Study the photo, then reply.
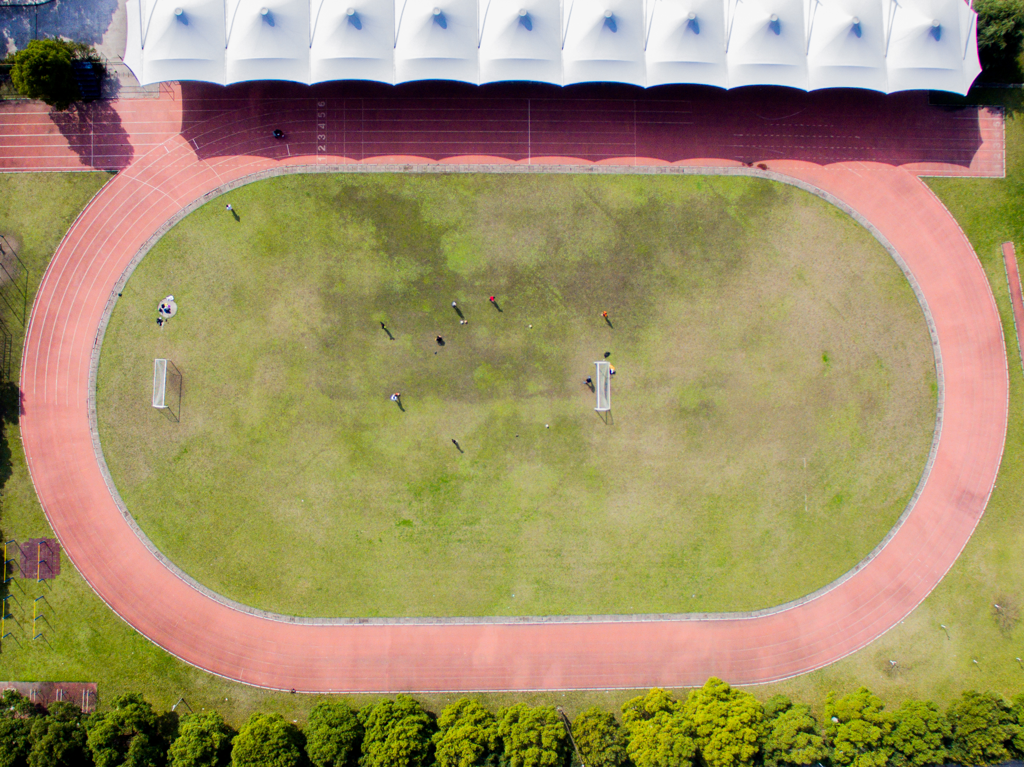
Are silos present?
No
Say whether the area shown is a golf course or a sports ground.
sports ground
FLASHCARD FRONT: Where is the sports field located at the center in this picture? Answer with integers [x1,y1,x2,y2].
[96,172,937,617]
